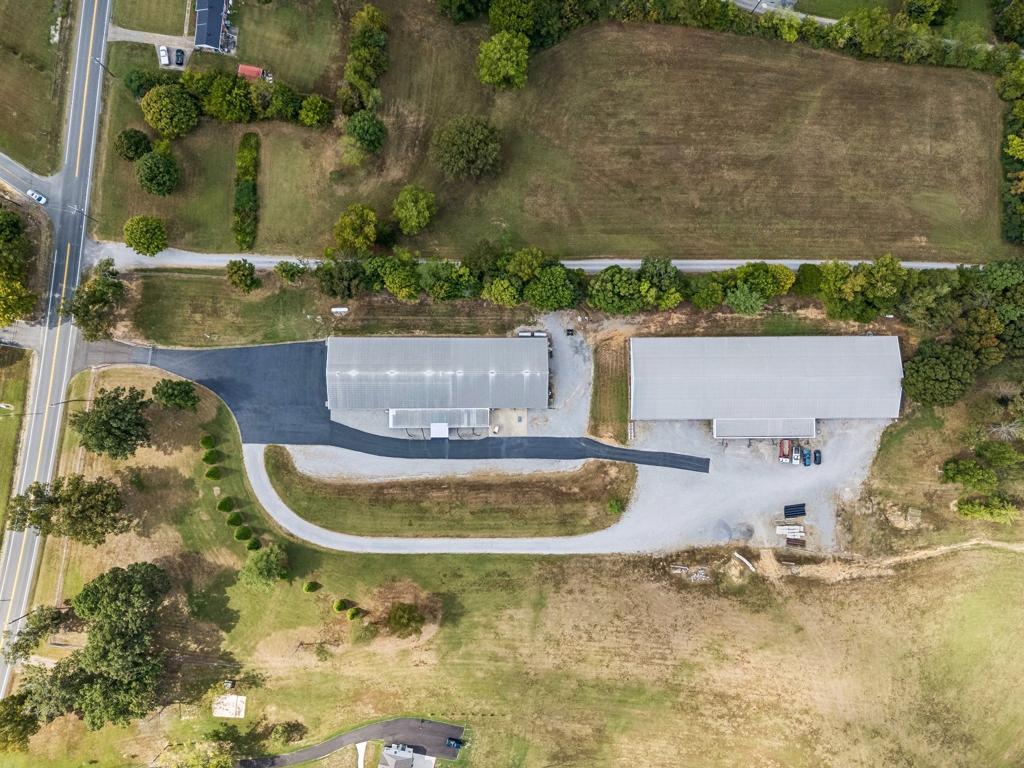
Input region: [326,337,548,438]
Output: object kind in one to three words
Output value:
building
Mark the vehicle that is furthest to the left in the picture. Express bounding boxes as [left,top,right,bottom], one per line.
[27,189,47,204]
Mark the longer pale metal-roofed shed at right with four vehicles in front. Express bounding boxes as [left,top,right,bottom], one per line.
[629,336,904,443]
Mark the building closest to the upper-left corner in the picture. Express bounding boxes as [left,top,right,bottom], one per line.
[194,0,226,53]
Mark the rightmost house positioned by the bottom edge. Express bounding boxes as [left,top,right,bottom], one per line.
[376,740,415,768]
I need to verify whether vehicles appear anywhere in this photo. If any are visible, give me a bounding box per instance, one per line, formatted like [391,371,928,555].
[779,440,792,463]
[792,446,801,465]
[175,49,184,66]
[444,738,464,748]
[813,449,822,465]
[159,45,169,66]
[802,448,812,467]
[27,189,47,204]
